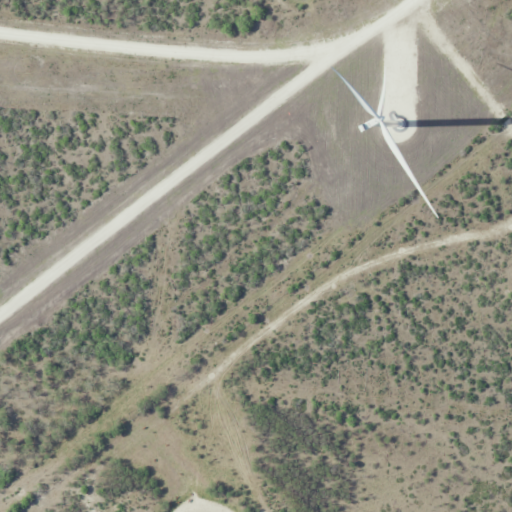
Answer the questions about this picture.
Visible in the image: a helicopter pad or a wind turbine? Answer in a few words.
wind turbine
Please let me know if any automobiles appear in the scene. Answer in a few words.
No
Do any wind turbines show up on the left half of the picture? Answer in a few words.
No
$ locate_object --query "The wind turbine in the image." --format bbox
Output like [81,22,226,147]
[336,62,438,218]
